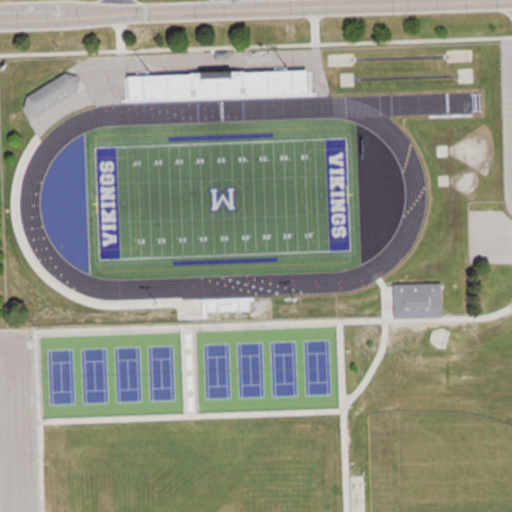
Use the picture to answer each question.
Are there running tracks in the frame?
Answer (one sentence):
Yes, I can see a running track in this picture.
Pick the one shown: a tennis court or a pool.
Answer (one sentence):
The one in the frame is a tennis court.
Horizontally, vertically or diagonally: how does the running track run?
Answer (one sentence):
I'd say the running track is aligned horizontally in the picture.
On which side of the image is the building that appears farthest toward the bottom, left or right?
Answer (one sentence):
It is on the right.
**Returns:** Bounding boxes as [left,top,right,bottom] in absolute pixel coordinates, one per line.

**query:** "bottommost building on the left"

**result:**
[22,73,78,116]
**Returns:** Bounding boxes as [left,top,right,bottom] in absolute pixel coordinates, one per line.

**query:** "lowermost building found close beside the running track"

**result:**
[394,284,443,318]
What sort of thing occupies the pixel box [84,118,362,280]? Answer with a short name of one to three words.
sports field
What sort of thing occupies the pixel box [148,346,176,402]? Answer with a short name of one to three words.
tennis court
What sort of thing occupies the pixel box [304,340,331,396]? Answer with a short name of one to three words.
tennis court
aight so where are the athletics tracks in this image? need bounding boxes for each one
[20,92,471,300]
